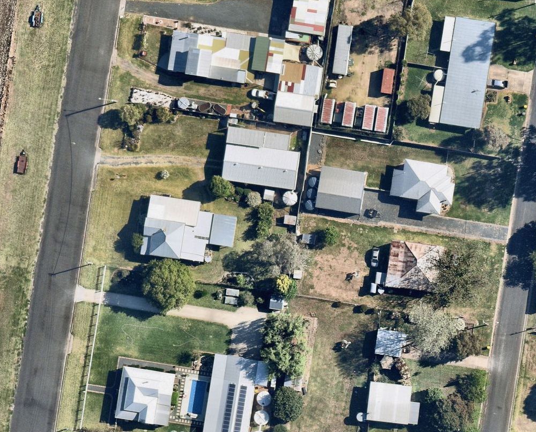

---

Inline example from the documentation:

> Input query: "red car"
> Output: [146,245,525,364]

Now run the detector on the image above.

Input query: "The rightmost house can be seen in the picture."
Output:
[428,16,497,129]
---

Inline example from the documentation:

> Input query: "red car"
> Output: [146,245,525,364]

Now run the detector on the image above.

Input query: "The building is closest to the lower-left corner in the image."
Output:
[115,367,175,426]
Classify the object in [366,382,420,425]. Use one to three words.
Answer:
house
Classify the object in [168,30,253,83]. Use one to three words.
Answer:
house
